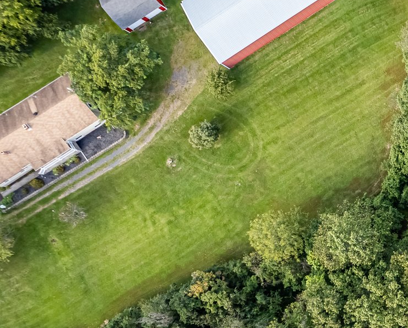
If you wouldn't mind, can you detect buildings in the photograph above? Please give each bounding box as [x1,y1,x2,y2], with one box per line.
[0,73,104,185]
[100,0,167,34]
[181,0,336,68]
